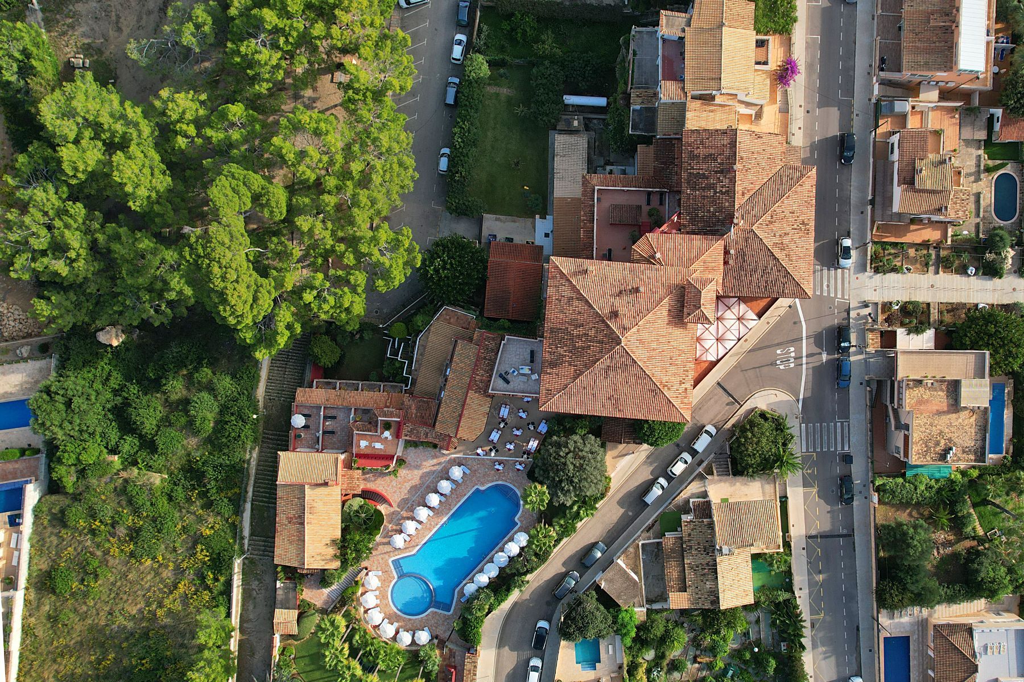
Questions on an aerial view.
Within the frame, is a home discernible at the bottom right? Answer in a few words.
Yes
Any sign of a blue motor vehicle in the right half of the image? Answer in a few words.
Yes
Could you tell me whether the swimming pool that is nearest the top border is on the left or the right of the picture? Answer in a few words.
right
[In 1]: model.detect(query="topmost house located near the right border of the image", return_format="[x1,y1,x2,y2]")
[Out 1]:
[876,0,997,101]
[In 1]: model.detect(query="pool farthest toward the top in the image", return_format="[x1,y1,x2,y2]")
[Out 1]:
[991,170,1021,222]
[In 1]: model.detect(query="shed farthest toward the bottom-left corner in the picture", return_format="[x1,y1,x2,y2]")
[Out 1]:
[273,576,302,636]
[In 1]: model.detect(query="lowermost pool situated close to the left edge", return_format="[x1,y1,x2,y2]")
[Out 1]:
[0,483,24,513]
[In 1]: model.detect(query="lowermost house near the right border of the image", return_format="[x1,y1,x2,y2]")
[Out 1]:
[912,609,1024,682]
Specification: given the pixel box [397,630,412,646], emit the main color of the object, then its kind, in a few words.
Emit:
white umbrella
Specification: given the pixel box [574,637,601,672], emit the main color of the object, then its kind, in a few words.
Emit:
blue swimming pool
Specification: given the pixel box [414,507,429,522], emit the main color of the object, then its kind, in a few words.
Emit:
white umbrella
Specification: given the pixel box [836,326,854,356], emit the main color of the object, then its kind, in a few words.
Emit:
black car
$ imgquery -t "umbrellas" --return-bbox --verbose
[390,534,405,549]
[397,630,412,646]
[504,541,520,556]
[493,551,508,567]
[514,532,529,547]
[402,520,417,535]
[289,412,307,430]
[365,574,380,589]
[368,608,383,623]
[448,465,463,480]
[380,620,395,636]
[415,628,430,644]
[436,479,451,494]
[463,581,478,596]
[483,563,498,578]
[426,492,441,508]
[474,572,489,586]
[414,507,429,522]
[362,592,377,607]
